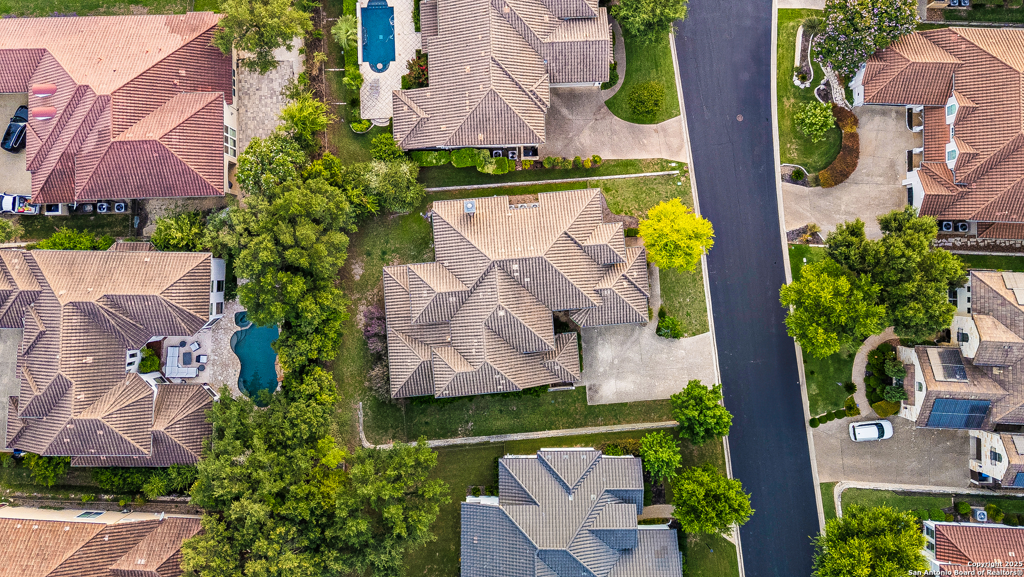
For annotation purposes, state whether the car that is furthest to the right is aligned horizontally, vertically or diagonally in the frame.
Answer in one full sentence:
Seen from above, the car that is furthest to the right lies horizontally.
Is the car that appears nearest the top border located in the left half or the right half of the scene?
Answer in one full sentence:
The car that appears nearest the top border appears in the left half of the scene.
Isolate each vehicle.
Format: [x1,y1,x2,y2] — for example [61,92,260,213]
[0,194,39,216]
[0,104,27,155]
[845,419,893,442]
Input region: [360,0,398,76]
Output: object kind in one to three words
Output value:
swimming pool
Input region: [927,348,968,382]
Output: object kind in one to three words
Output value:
solar panel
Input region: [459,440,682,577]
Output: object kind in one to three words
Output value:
house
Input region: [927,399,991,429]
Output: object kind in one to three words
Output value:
solar panel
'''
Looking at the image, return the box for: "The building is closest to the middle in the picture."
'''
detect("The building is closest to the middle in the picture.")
[382,187,651,399]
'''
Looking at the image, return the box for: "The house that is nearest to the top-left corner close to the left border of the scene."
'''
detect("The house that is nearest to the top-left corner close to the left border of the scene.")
[0,11,240,205]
